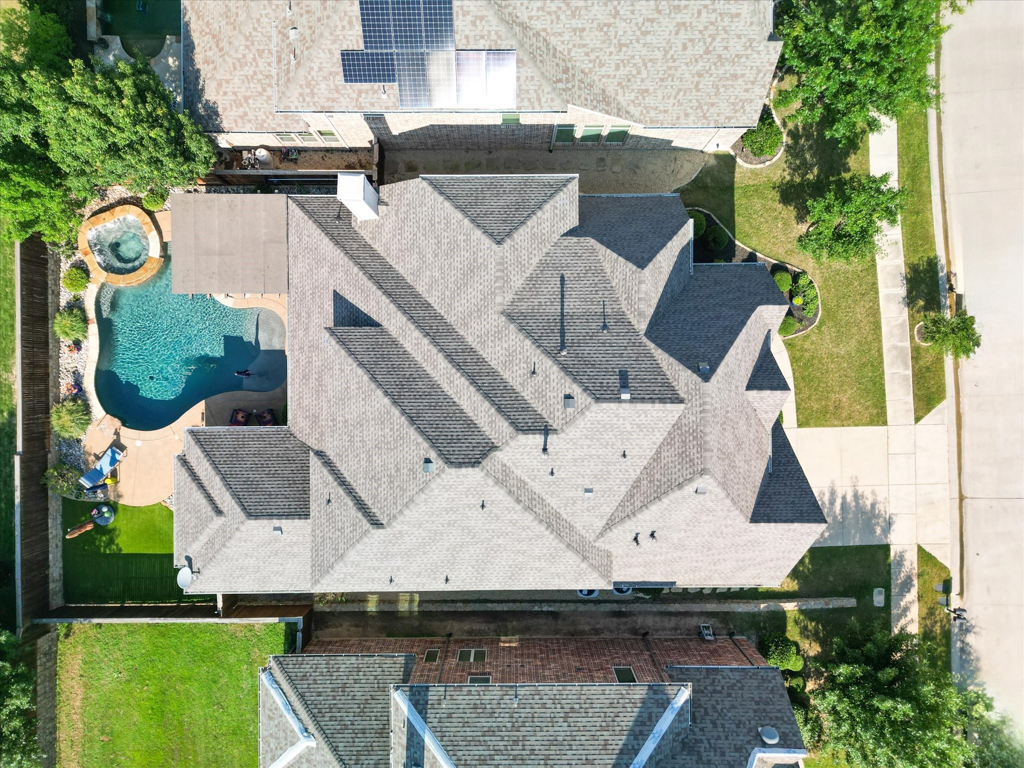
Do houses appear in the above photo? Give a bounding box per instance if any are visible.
[181,0,785,154]
[259,632,809,768]
[171,172,826,596]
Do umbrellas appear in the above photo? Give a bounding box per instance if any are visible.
[84,482,119,493]
[66,523,105,538]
